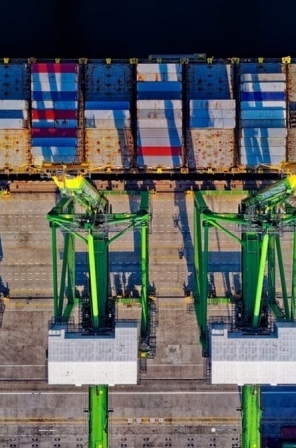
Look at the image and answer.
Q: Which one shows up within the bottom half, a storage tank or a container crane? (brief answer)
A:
container crane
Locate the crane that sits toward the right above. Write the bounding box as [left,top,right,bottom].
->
[175,161,296,448]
